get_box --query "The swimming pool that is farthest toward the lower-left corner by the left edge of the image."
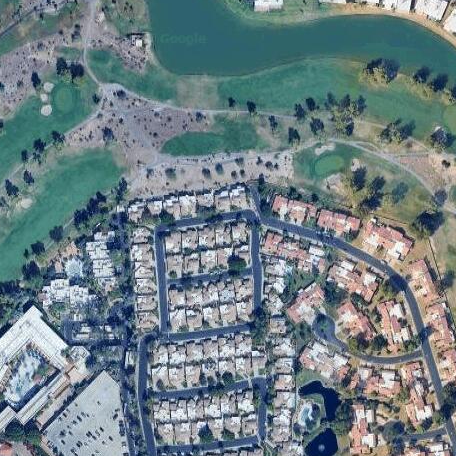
[11,367,29,398]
